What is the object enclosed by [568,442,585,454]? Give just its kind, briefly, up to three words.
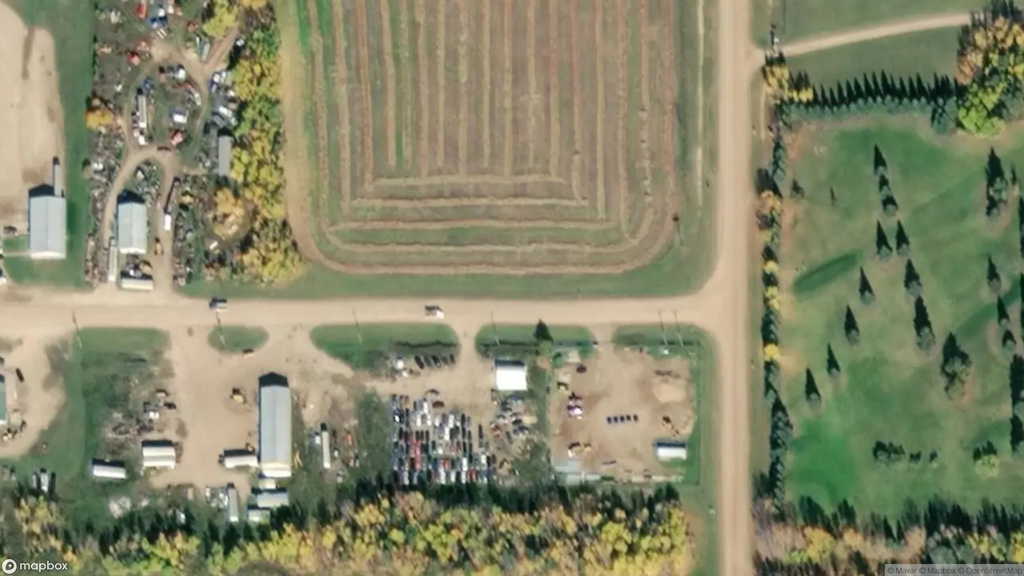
vehicle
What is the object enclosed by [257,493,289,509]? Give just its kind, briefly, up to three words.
shed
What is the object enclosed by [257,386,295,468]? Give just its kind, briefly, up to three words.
barn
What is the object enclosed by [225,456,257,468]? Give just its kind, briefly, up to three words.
shed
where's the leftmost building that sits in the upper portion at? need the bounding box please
[27,197,69,259]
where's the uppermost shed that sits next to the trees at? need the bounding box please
[217,137,234,178]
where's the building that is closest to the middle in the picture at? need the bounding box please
[495,368,528,390]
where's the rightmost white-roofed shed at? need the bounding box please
[657,448,687,460]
